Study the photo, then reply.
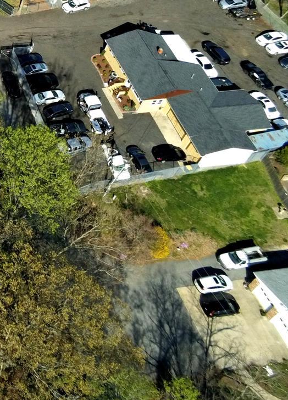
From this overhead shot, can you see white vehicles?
Yes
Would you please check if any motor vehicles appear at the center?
Yes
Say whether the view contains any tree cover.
Yes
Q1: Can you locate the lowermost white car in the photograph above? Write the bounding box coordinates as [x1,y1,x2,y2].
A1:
[188,273,236,295]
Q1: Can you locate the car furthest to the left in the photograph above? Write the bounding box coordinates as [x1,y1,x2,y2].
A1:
[0,70,22,100]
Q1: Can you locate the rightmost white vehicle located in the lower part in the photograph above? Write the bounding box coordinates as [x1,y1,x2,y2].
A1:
[214,247,268,269]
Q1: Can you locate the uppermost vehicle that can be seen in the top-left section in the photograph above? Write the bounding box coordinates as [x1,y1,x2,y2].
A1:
[62,0,92,14]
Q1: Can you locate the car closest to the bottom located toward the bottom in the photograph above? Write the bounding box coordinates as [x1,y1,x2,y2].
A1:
[196,292,244,316]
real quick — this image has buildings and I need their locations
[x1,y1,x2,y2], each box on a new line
[241,267,288,364]
[101,30,273,171]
